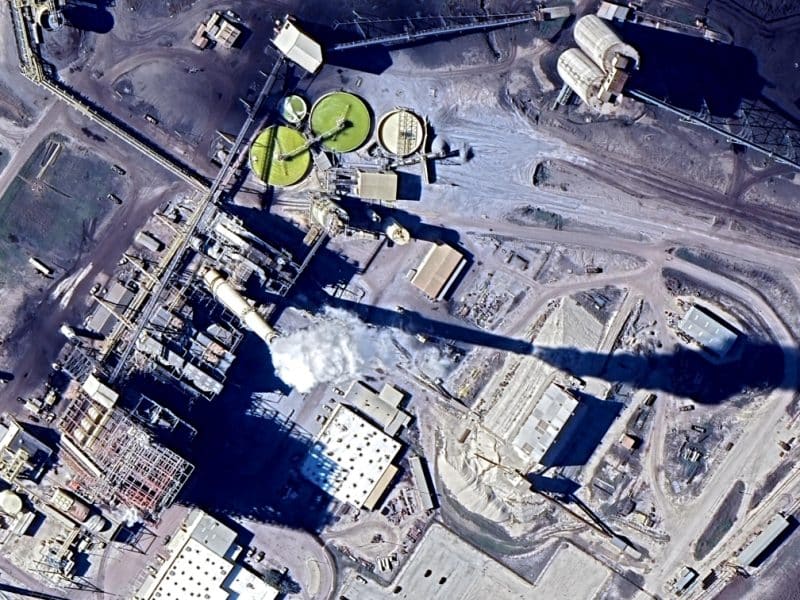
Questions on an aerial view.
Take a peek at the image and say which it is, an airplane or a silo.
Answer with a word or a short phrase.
silo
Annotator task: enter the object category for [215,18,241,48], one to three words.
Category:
building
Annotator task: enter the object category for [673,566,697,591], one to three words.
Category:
shed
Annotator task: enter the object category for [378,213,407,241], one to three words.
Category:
silo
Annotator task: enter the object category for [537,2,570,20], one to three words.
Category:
house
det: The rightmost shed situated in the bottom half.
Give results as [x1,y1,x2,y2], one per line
[737,510,790,566]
